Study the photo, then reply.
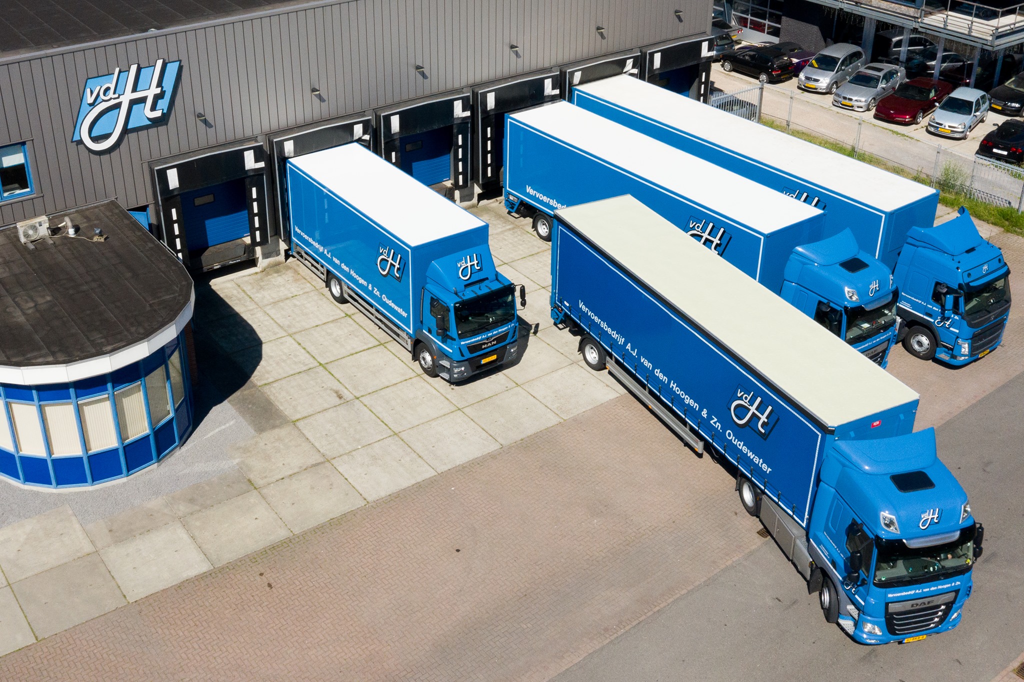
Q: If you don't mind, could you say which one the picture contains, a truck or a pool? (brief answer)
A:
truck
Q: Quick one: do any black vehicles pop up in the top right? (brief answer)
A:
Yes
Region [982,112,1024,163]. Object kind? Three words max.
car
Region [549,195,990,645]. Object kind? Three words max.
truck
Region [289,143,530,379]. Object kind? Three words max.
truck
